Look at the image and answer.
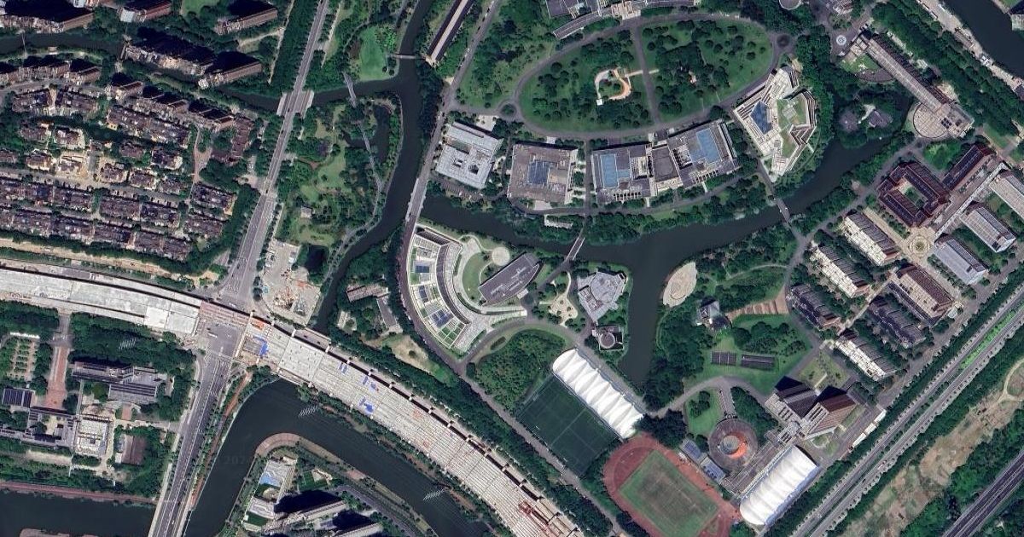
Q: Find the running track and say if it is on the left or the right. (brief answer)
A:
right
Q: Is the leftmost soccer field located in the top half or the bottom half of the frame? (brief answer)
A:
bottom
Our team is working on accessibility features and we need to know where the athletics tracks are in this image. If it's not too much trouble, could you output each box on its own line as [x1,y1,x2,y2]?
[602,435,734,537]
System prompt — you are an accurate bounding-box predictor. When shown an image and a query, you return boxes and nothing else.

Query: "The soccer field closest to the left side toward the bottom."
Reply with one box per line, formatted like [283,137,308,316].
[516,376,619,475]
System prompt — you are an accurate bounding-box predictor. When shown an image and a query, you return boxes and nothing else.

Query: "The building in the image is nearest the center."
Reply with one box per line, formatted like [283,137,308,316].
[479,252,543,306]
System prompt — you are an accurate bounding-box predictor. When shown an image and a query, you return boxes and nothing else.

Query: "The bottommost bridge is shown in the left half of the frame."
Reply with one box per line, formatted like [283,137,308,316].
[150,481,190,537]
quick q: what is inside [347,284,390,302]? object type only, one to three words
shed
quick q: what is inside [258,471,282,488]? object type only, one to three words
swimming pool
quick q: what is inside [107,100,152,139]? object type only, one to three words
house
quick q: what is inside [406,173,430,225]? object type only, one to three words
bridge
